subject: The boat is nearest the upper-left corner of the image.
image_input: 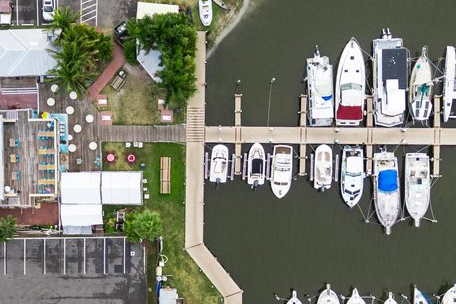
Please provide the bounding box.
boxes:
[199,0,213,25]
